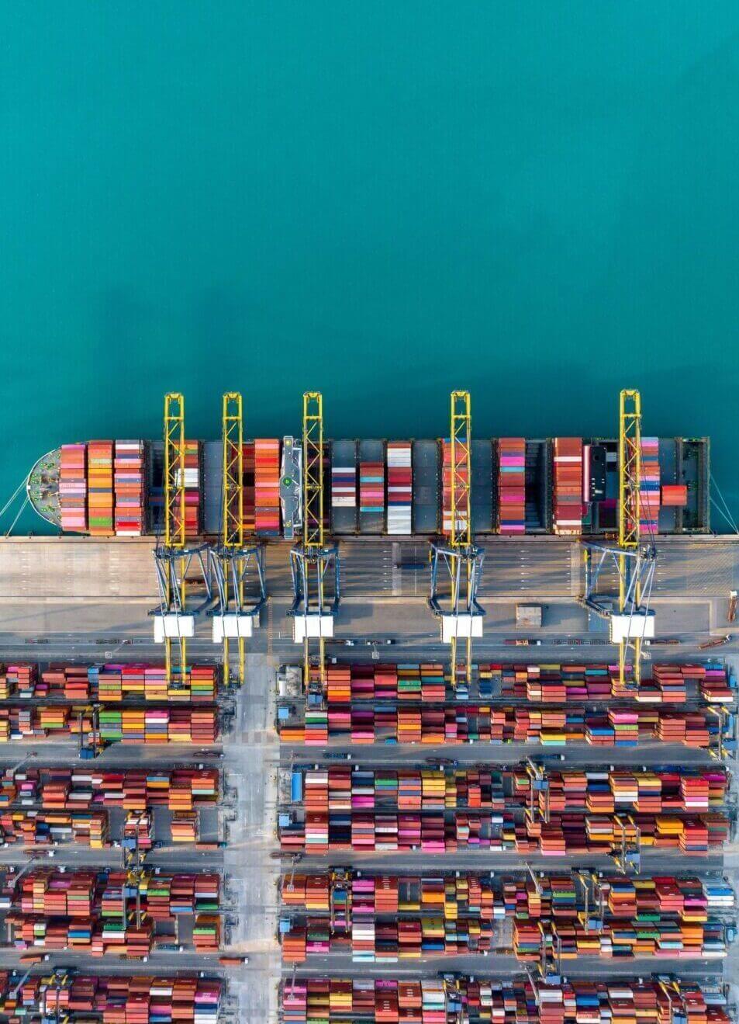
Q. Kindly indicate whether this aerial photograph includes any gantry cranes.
Yes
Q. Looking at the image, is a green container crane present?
No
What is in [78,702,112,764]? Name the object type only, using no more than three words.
container crane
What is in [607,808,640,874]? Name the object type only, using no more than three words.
container crane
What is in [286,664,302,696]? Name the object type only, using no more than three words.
building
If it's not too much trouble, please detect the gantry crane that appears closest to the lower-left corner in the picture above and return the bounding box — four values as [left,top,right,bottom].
[42,967,77,1024]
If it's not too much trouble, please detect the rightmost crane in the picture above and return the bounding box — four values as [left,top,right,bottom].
[695,702,733,764]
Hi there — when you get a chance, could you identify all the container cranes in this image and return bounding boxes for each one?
[572,864,603,934]
[695,702,733,764]
[42,967,77,1024]
[607,808,640,874]
[438,967,462,1024]
[122,808,153,874]
[330,864,352,934]
[145,388,220,687]
[521,758,549,822]
[580,388,662,687]
[122,864,154,934]
[306,652,329,710]
[287,388,348,687]
[78,702,112,764]
[531,915,560,986]
[203,388,272,687]
[425,389,489,687]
